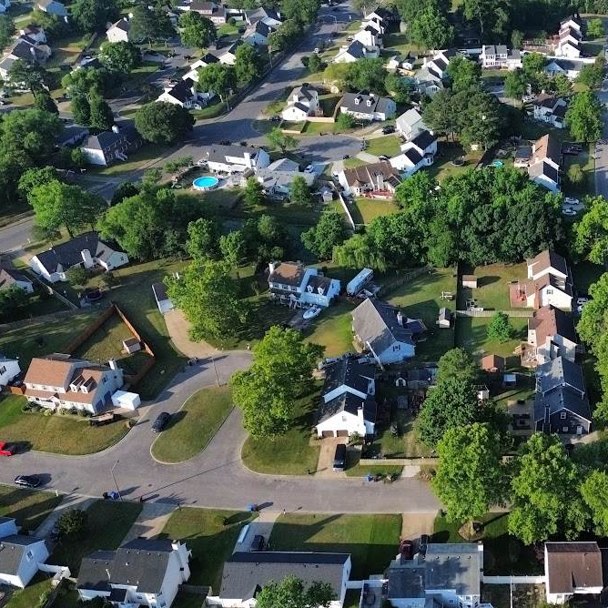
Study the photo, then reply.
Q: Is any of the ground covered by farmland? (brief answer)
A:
No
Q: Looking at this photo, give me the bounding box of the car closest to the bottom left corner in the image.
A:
[11,471,46,490]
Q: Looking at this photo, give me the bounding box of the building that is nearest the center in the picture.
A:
[266,263,341,310]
